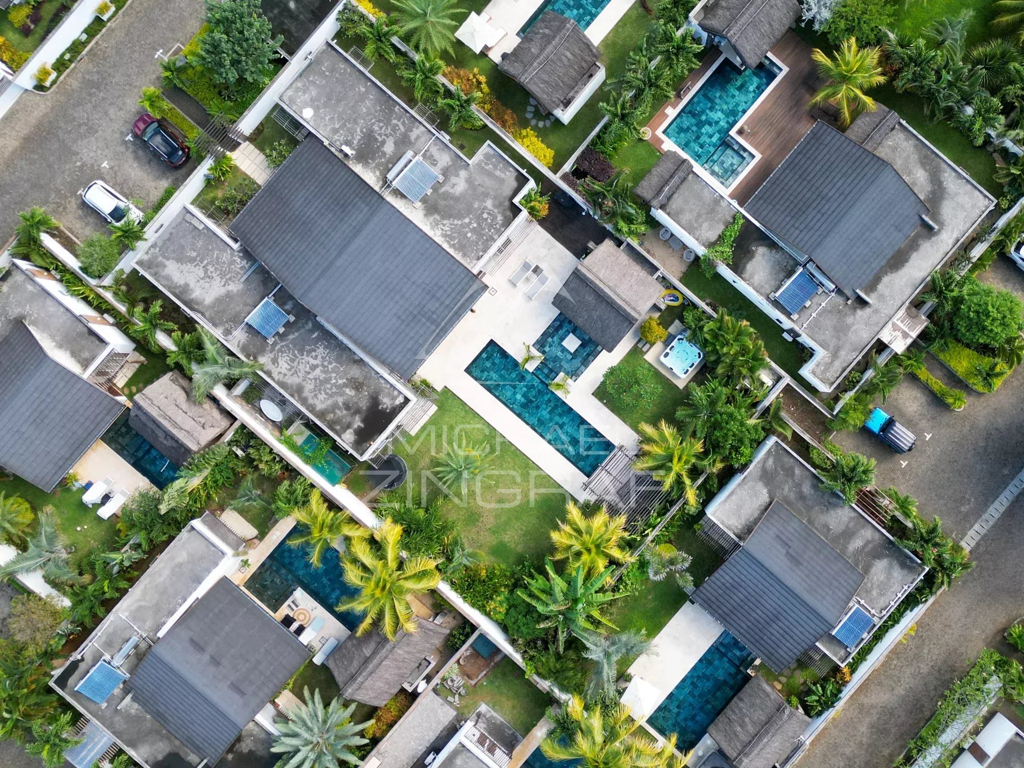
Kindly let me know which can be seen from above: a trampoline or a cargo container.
trampoline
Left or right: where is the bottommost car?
right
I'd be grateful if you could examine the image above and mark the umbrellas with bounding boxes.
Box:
[620,666,661,720]
[454,11,491,58]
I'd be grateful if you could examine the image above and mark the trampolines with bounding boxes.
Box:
[372,453,412,491]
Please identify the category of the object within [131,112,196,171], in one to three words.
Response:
car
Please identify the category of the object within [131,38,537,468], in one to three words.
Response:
house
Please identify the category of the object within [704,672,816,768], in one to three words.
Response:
building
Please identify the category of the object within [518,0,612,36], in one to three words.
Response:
swimming pool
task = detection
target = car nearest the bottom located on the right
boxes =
[857,401,928,460]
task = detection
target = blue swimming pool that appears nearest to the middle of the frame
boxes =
[464,313,615,478]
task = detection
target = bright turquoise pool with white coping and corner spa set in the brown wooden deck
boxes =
[657,49,788,195]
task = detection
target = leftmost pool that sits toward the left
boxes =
[102,409,182,487]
